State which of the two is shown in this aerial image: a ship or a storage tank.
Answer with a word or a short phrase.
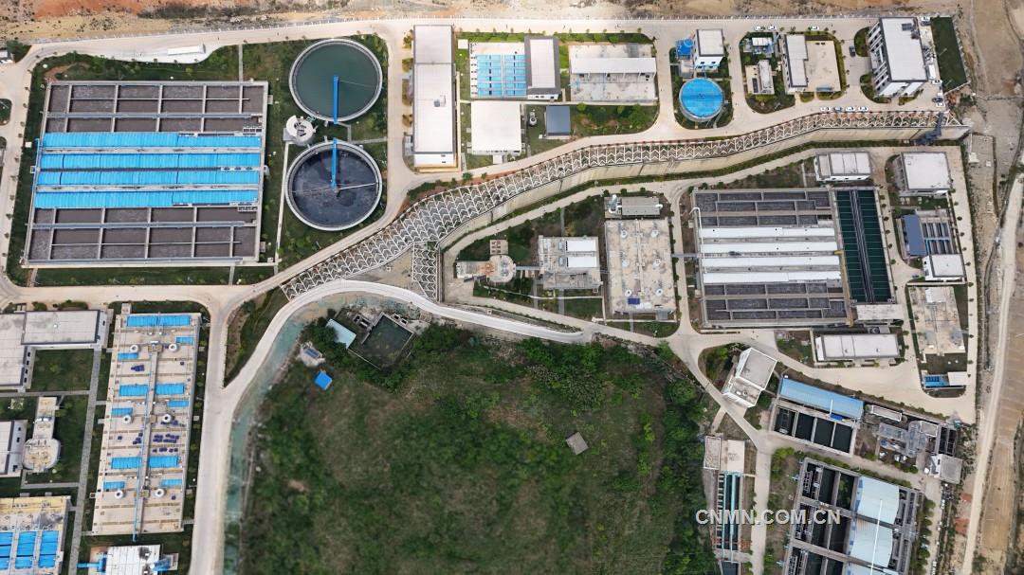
storage tank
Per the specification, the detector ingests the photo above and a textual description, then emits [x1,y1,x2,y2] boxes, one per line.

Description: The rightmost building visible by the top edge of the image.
[866,16,929,96]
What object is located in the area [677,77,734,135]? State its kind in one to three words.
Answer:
storage tank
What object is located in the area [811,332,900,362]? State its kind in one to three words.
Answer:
building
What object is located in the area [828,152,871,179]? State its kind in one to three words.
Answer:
house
